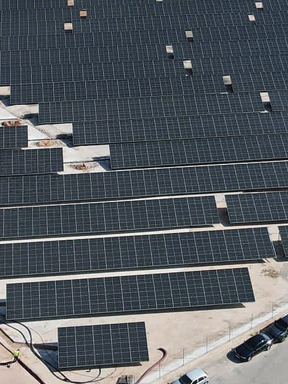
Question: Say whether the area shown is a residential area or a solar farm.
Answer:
solar farm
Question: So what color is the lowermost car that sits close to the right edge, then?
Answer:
black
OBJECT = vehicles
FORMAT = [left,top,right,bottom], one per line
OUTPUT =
[178,368,211,384]
[234,336,275,365]
[269,318,288,344]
